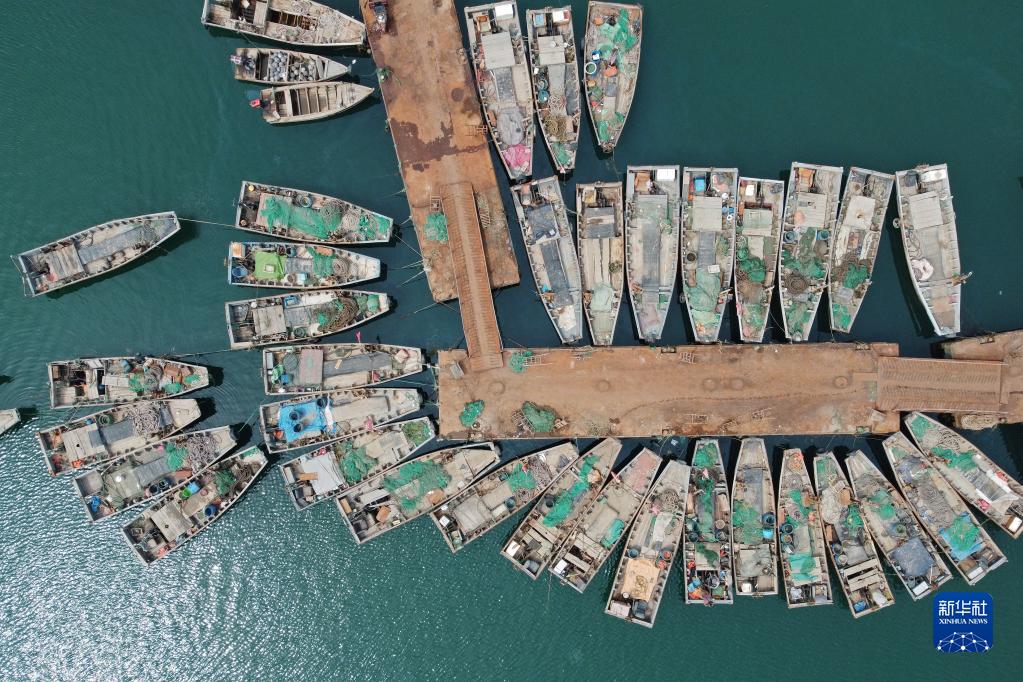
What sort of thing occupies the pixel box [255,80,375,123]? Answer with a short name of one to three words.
boat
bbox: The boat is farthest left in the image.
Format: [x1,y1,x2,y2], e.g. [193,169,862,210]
[0,407,25,439]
